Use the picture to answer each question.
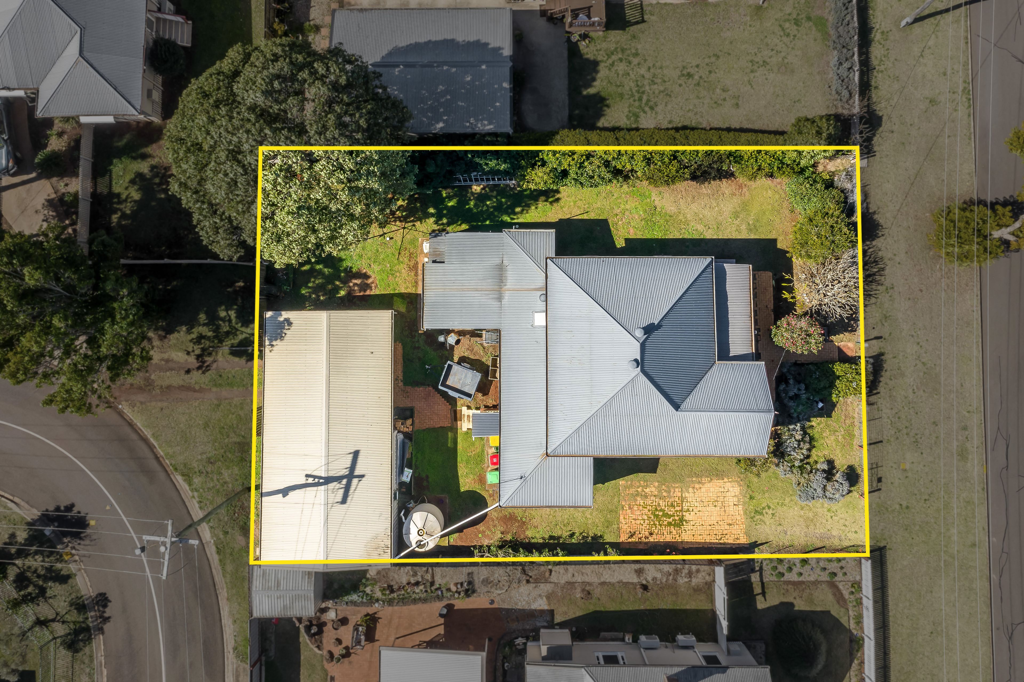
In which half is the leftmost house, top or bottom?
top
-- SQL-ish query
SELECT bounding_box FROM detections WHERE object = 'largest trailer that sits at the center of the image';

[421,358,482,403]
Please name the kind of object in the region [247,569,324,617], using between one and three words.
shed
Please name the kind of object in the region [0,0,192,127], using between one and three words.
house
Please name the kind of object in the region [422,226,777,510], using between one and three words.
house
